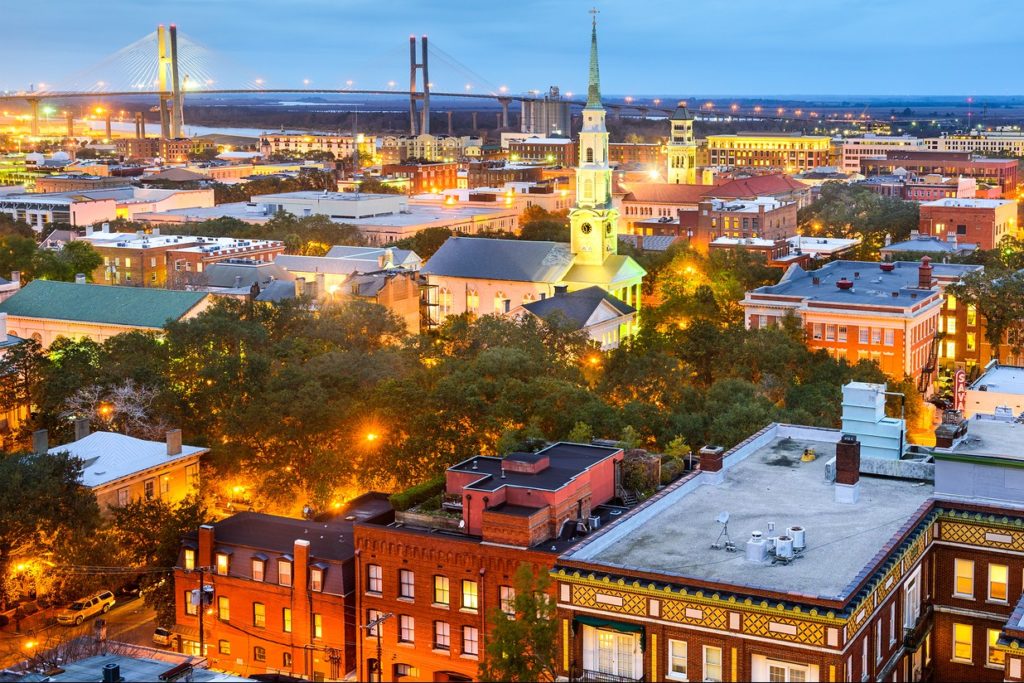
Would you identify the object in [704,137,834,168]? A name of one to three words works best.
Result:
building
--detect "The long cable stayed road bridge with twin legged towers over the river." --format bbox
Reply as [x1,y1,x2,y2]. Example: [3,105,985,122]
[0,25,771,137]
